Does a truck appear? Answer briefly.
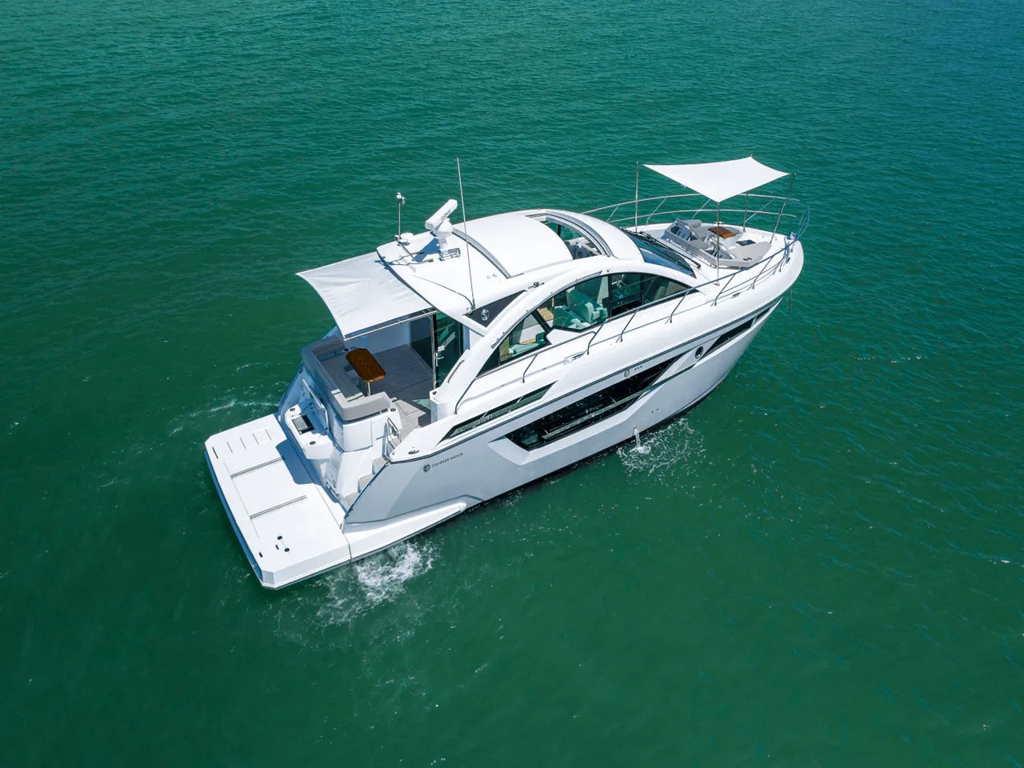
No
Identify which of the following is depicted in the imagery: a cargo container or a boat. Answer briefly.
boat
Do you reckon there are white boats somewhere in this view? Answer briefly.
Yes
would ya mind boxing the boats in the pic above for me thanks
[205,162,807,586]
